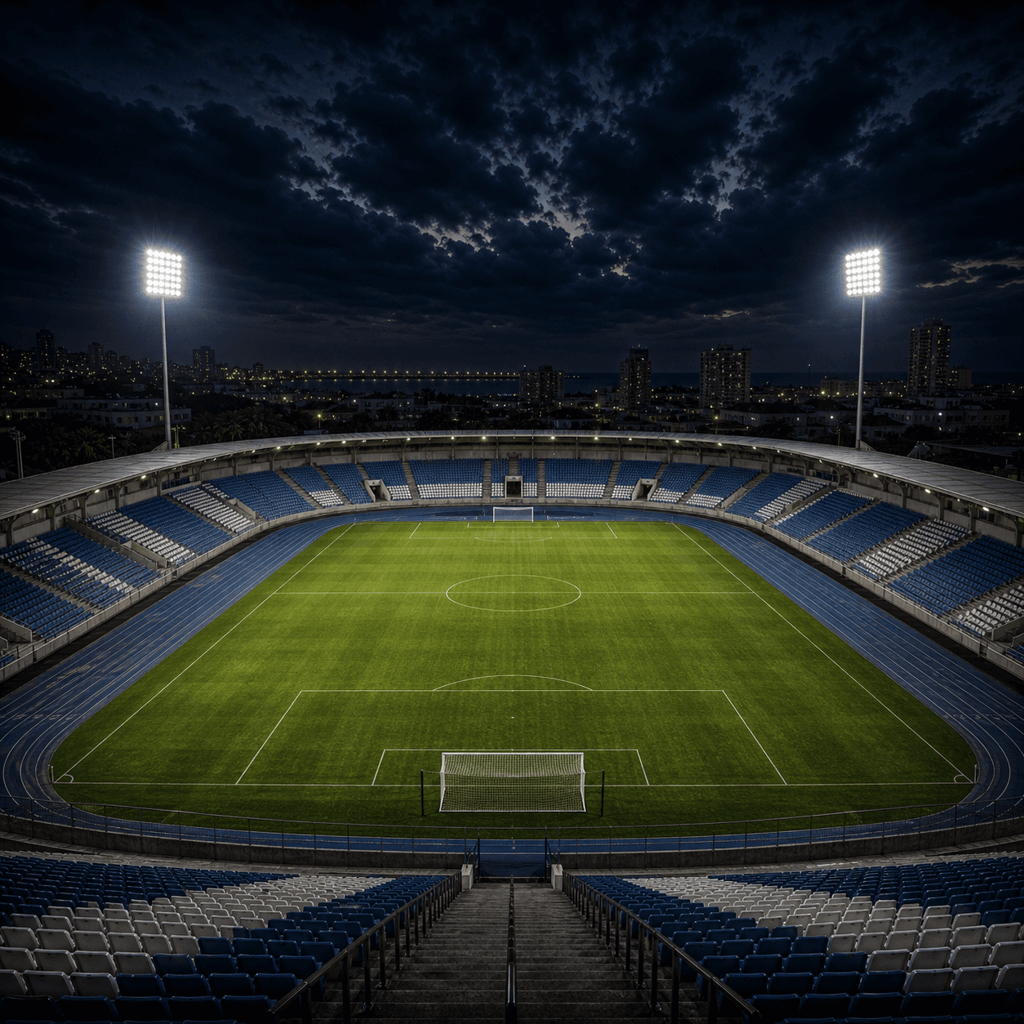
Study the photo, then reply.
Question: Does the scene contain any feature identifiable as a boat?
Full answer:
No, the picture doesn't show any boat.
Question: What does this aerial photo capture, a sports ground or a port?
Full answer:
It's a sports ground.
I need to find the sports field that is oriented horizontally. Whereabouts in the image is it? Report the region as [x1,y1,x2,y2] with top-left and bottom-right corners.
[62,521,962,838]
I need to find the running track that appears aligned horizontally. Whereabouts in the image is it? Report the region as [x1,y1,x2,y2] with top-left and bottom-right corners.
[0,507,1024,863]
